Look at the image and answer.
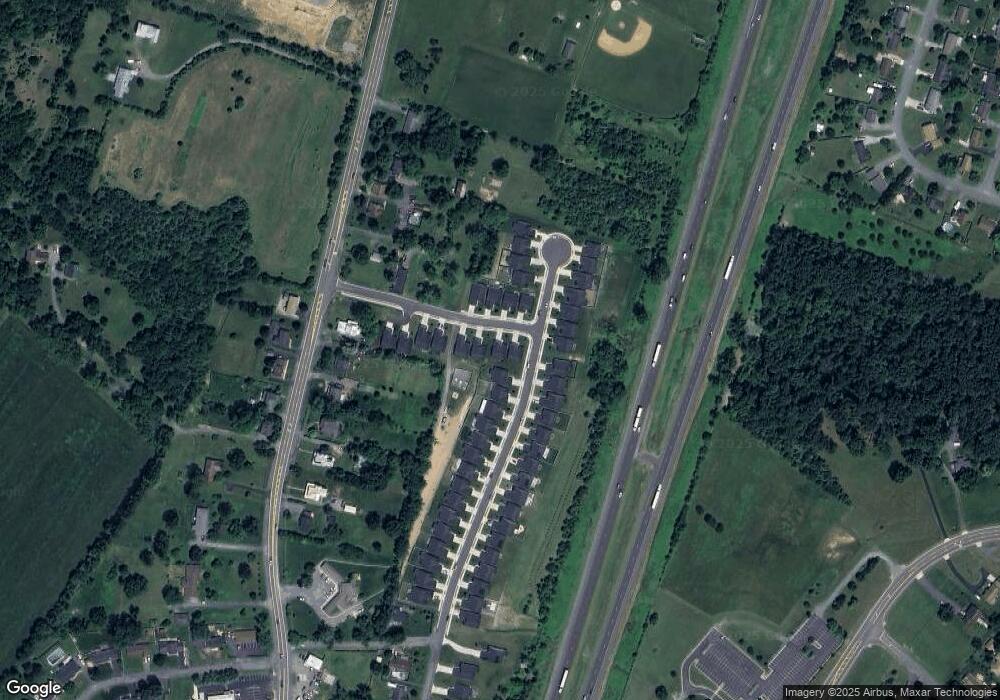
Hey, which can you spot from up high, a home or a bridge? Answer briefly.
home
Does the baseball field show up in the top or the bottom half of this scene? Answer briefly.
top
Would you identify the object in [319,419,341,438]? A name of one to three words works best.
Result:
house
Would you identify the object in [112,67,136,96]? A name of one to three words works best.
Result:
house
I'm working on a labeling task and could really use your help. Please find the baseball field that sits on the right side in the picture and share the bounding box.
[598,0,651,57]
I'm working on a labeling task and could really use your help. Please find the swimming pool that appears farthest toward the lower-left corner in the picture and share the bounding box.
[48,648,65,665]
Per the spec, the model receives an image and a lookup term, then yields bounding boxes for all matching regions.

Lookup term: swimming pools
[48,648,65,665]
[942,223,953,233]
